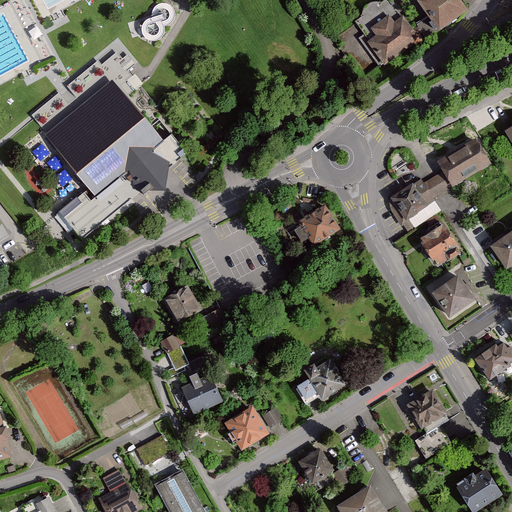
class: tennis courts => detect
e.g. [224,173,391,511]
[13,368,98,458]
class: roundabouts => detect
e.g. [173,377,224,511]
[312,128,372,187]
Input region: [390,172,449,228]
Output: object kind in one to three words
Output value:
building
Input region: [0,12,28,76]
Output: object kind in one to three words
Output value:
swimming pool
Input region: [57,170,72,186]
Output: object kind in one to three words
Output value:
umbrella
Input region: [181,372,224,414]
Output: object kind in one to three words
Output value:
house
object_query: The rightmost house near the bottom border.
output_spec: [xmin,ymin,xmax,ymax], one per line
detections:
[456,468,503,512]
